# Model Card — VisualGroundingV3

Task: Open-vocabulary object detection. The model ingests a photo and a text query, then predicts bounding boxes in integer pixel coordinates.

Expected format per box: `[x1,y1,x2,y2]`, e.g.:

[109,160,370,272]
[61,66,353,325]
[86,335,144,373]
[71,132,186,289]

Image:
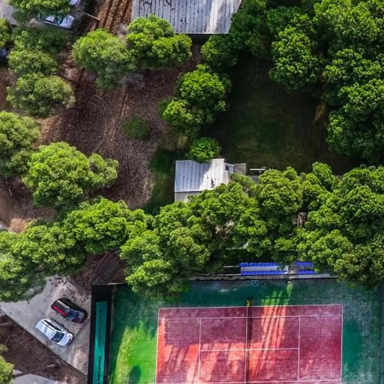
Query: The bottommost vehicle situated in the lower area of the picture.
[34,319,74,345]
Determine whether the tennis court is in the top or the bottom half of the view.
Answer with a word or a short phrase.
bottom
